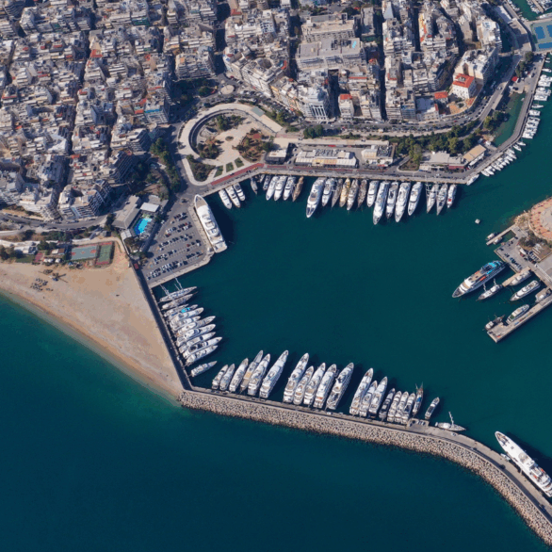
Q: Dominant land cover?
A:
water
